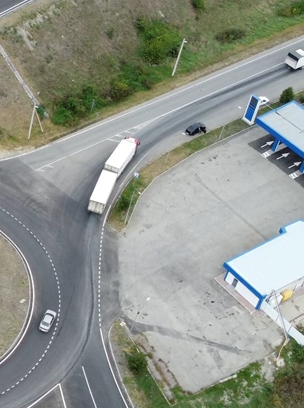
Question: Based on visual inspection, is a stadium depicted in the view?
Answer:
No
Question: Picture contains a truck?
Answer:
Yes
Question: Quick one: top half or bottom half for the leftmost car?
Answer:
bottom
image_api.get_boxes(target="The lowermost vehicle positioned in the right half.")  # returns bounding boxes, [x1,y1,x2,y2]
[184,122,209,137]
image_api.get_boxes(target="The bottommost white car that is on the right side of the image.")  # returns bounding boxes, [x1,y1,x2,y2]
[256,94,273,106]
